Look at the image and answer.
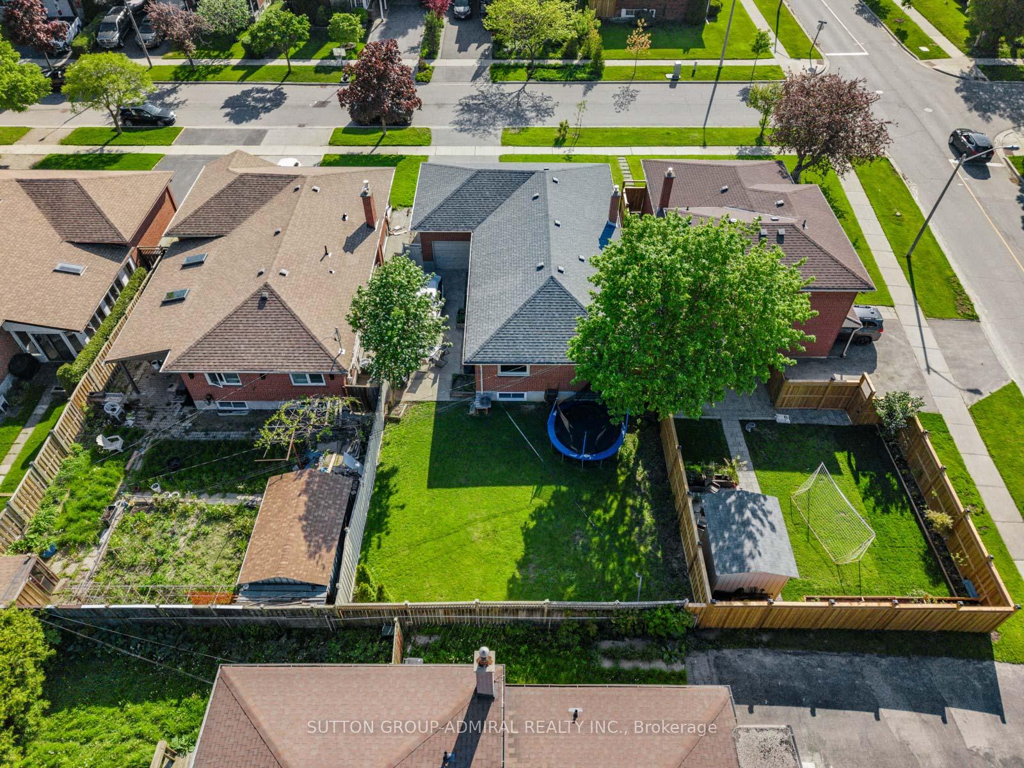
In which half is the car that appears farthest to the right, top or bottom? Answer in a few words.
top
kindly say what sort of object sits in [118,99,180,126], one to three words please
car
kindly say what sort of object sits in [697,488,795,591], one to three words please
shed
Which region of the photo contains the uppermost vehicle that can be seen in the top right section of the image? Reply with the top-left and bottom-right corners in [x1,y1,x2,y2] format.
[947,129,1005,164]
